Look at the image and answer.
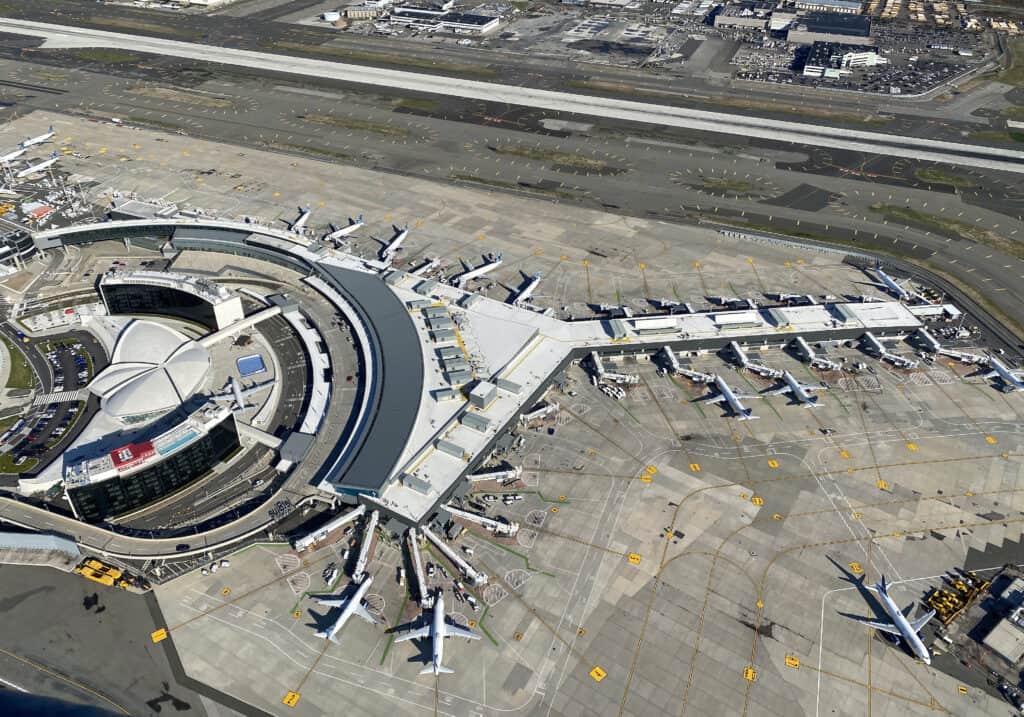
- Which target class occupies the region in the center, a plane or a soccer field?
plane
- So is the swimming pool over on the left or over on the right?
left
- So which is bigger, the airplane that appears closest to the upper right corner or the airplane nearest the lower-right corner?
the airplane nearest the lower-right corner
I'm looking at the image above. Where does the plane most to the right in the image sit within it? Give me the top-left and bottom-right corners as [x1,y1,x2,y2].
[983,359,1024,391]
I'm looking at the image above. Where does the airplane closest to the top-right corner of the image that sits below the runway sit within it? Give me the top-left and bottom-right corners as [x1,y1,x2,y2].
[869,262,912,299]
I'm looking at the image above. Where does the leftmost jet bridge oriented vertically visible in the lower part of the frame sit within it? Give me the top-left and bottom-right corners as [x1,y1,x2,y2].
[353,509,379,587]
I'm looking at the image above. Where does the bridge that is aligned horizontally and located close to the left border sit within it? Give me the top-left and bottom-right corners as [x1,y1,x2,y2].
[0,486,300,565]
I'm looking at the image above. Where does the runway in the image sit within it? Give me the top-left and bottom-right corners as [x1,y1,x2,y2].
[0,18,1024,173]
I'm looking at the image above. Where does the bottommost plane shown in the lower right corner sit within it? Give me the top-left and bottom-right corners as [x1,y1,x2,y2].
[859,576,939,665]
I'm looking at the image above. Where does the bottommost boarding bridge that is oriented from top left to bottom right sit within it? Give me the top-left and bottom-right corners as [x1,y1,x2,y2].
[421,524,489,588]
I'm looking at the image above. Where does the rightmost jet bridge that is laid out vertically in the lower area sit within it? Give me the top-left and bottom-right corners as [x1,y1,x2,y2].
[409,527,433,612]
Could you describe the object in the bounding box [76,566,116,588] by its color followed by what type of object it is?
yellow vehicle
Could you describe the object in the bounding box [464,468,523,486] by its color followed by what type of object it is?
white jet bridge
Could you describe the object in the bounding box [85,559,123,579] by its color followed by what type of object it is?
yellow vehicle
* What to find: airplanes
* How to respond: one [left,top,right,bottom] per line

[375,223,420,258]
[704,375,763,419]
[869,262,912,299]
[460,252,507,282]
[206,377,266,412]
[773,371,830,407]
[983,359,1024,391]
[0,185,17,199]
[859,576,939,665]
[326,217,368,241]
[0,143,30,163]
[505,268,554,305]
[316,579,381,645]
[286,206,318,228]
[396,593,480,676]
[18,151,61,177]
[22,126,59,148]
